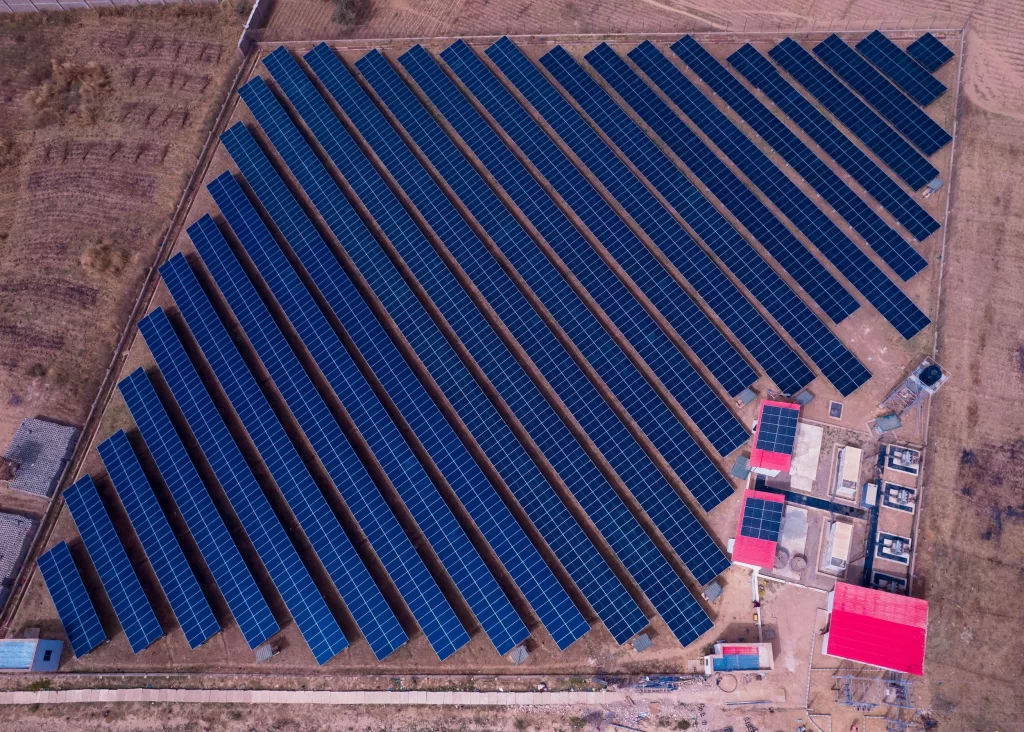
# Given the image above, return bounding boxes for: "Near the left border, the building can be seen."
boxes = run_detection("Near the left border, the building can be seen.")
[0,639,62,672]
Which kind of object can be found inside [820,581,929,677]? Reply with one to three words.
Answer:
shed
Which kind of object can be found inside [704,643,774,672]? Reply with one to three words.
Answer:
building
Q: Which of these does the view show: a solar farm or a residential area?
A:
solar farm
